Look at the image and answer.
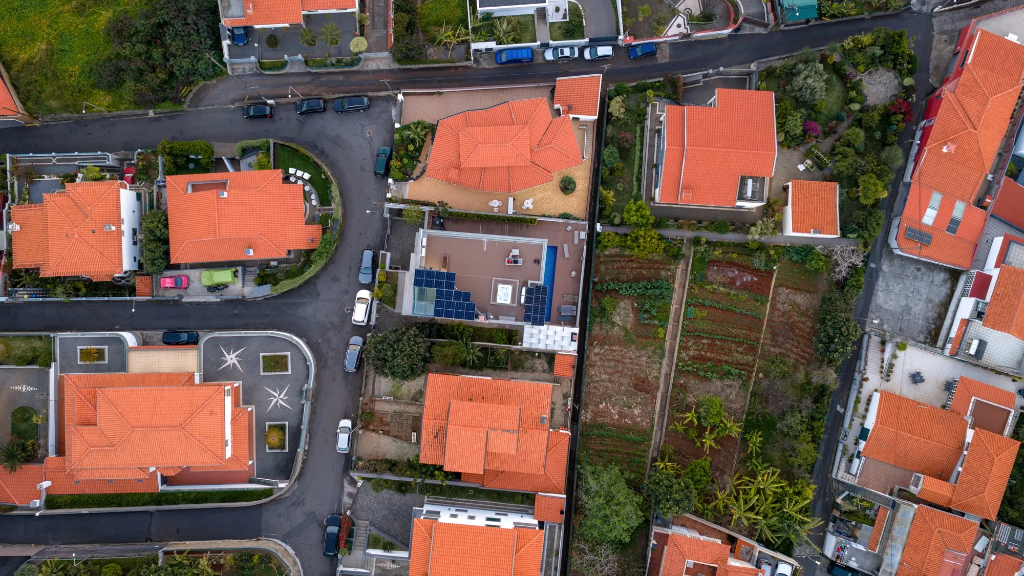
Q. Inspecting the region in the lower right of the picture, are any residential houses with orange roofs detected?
Yes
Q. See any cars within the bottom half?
Yes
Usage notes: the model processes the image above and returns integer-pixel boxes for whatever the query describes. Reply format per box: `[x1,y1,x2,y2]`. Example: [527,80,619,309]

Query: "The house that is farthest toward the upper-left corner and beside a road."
[0,57,42,128]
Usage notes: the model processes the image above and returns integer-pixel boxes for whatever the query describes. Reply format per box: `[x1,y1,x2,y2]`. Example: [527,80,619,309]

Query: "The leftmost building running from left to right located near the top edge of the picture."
[221,0,359,65]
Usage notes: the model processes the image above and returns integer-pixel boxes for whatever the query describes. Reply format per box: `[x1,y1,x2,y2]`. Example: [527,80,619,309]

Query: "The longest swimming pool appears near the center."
[545,246,557,322]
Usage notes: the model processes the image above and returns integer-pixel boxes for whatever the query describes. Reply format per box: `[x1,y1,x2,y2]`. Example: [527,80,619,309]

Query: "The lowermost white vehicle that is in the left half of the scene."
[336,418,354,452]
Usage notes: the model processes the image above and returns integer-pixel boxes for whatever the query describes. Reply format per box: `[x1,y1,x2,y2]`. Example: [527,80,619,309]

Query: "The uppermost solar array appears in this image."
[905,227,933,246]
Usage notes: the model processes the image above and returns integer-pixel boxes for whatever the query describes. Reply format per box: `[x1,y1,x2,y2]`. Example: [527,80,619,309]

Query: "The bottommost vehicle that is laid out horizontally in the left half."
[161,329,201,345]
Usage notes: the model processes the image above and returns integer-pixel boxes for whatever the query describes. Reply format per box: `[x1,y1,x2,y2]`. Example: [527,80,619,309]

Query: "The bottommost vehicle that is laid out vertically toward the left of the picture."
[322,512,343,557]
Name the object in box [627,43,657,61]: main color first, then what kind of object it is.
blue car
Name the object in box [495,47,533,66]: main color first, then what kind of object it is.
blue vehicle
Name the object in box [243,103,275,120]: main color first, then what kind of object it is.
black car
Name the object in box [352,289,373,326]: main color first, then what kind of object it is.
white car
